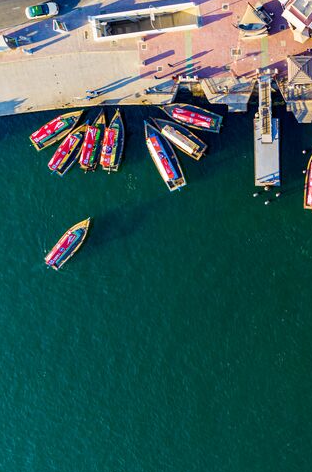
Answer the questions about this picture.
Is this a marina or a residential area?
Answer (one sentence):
This image shows a marina.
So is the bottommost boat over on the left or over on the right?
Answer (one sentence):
The bottommost boat is on the left side of the image.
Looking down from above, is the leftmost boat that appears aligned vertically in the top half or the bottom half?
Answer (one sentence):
You can find the leftmost boat that appears aligned vertically in the top half.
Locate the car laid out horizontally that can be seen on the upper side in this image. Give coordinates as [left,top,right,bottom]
[25,2,59,20]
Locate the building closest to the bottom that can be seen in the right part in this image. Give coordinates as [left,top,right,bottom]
[287,53,312,83]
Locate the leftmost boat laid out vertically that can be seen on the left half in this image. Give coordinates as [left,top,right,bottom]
[81,102,108,171]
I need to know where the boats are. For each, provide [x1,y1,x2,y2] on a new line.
[30,104,86,150]
[306,156,312,210]
[48,104,91,177]
[154,101,224,131]
[45,216,92,270]
[102,102,125,171]
[148,105,208,159]
[81,102,108,171]
[141,105,186,192]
